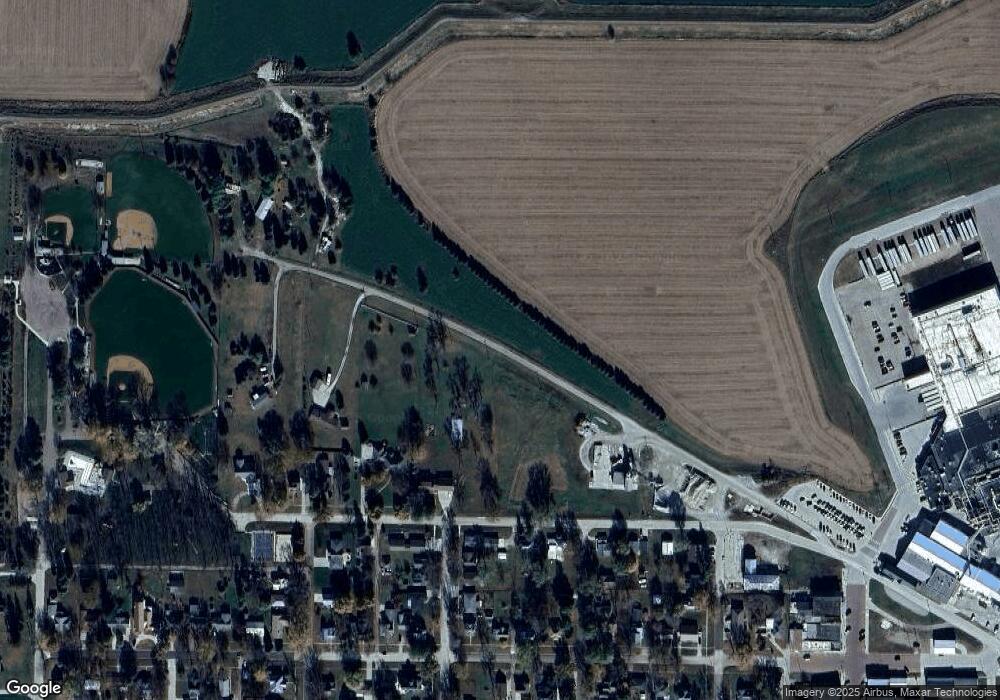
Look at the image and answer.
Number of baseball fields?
3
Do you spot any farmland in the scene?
Yes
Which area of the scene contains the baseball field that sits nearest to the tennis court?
left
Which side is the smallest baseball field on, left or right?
left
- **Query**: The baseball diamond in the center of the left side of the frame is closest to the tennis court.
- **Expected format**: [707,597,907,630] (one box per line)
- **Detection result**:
[88,268,218,422]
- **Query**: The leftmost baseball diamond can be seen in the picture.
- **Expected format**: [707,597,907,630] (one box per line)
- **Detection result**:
[42,184,100,251]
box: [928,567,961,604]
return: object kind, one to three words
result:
building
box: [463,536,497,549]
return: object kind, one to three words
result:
house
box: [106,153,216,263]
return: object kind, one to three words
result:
baseball field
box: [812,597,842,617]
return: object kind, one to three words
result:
building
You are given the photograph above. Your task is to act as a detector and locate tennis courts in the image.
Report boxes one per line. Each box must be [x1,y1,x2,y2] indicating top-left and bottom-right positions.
[252,531,274,562]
